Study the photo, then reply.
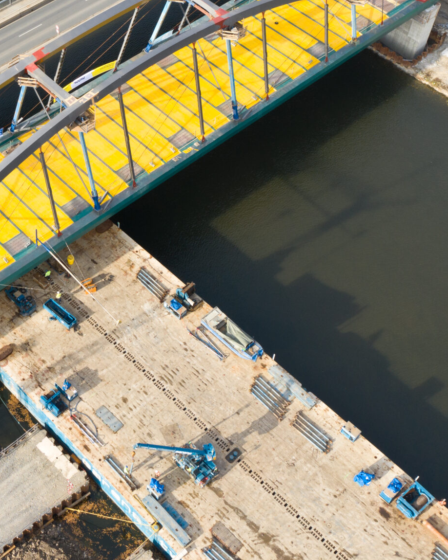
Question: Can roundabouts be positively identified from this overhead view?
No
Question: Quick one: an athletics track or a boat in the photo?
boat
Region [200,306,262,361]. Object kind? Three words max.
boat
